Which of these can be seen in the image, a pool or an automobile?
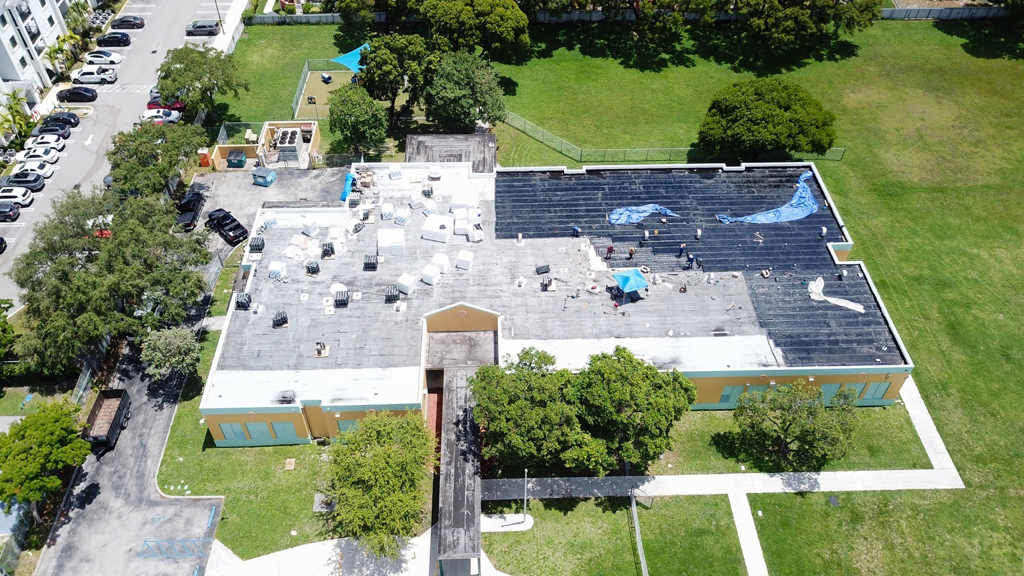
automobile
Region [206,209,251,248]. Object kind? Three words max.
truck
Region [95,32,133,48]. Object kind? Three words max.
car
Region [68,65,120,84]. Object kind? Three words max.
vehicle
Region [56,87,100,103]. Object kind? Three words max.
car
